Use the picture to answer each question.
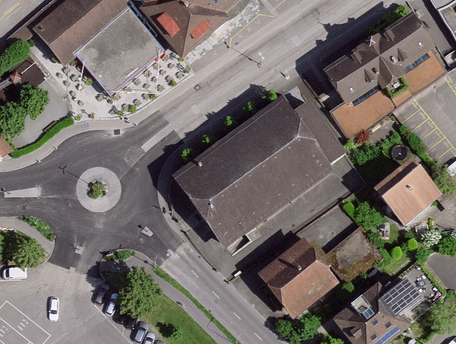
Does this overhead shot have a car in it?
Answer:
Yes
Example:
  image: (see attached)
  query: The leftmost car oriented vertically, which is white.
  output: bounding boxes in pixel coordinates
[48,296,60,322]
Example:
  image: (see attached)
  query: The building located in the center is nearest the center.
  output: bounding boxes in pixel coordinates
[172,95,334,251]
